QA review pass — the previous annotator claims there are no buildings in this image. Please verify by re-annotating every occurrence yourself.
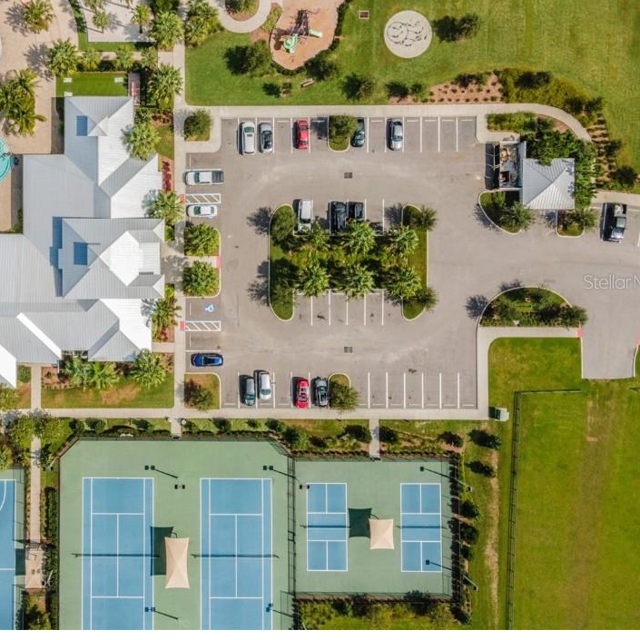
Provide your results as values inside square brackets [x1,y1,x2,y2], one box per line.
[0,98,164,390]
[516,159,574,209]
